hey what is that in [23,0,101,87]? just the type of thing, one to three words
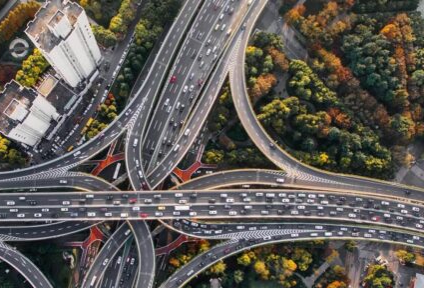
building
